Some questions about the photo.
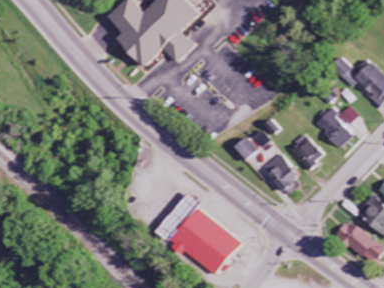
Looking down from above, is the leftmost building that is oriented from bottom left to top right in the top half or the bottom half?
bottom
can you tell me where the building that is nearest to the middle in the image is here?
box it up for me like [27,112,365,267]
[236,135,259,158]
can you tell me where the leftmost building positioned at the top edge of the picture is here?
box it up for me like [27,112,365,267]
[108,0,220,67]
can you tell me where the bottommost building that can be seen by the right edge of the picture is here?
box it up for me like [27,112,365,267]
[340,222,384,260]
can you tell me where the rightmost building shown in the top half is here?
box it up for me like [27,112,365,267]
[353,60,384,104]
